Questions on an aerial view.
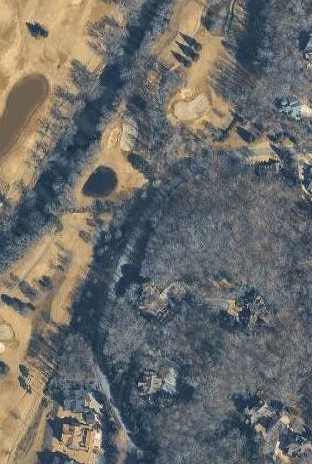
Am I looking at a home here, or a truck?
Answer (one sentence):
The one in the frame is a home.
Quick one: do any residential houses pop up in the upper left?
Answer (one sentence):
No, there's no residential house to be seen in the upper left.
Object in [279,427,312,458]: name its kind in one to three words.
house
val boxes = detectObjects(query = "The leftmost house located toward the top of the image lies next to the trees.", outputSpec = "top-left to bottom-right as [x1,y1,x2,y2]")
[253,161,283,177]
